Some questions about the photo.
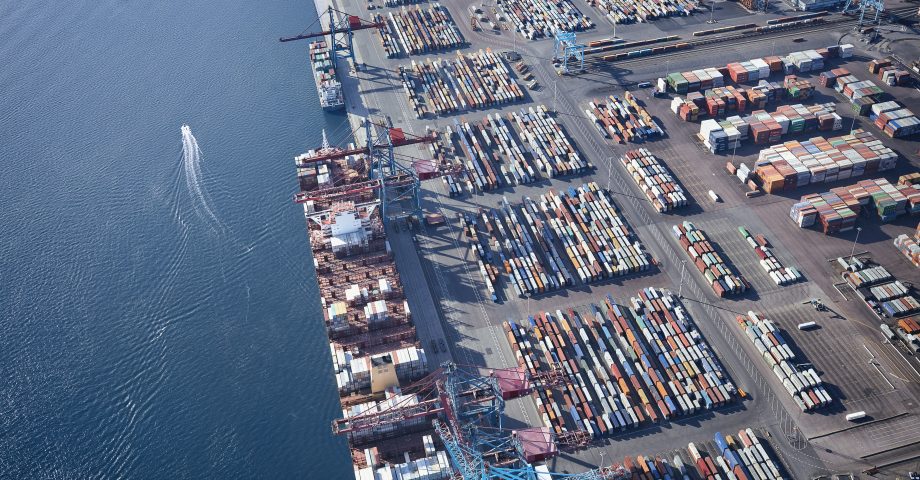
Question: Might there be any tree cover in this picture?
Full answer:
No, tree cover can't be seen anywhere here.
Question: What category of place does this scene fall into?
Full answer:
What you see here is a port.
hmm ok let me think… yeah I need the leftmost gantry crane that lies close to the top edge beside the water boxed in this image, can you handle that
[279,2,383,68]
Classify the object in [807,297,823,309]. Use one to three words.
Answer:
vehicle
